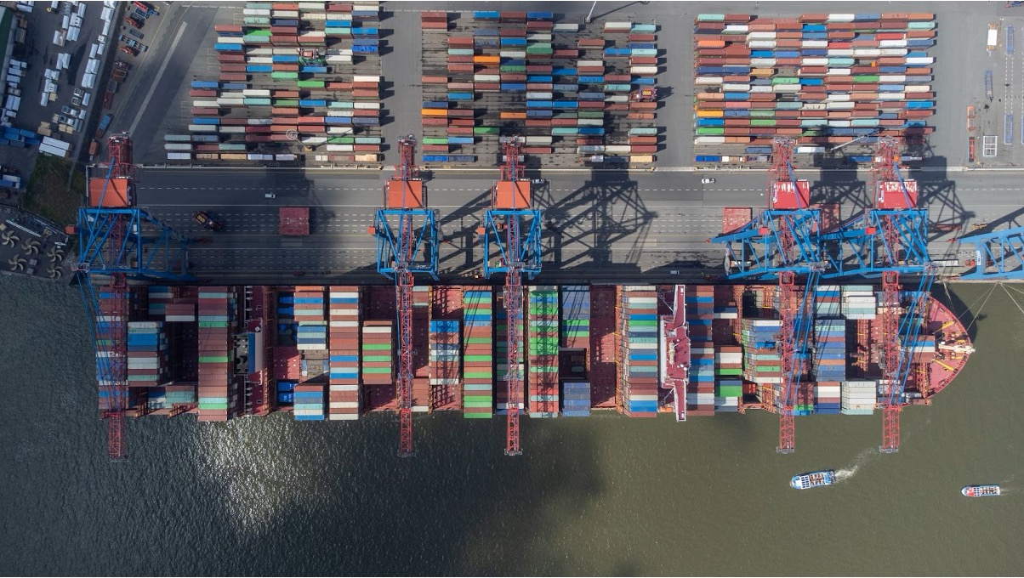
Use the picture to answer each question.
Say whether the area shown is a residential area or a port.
port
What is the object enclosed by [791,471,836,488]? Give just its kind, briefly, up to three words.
boat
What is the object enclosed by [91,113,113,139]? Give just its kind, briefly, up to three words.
truck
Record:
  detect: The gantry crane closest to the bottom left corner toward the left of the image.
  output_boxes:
[64,130,207,460]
